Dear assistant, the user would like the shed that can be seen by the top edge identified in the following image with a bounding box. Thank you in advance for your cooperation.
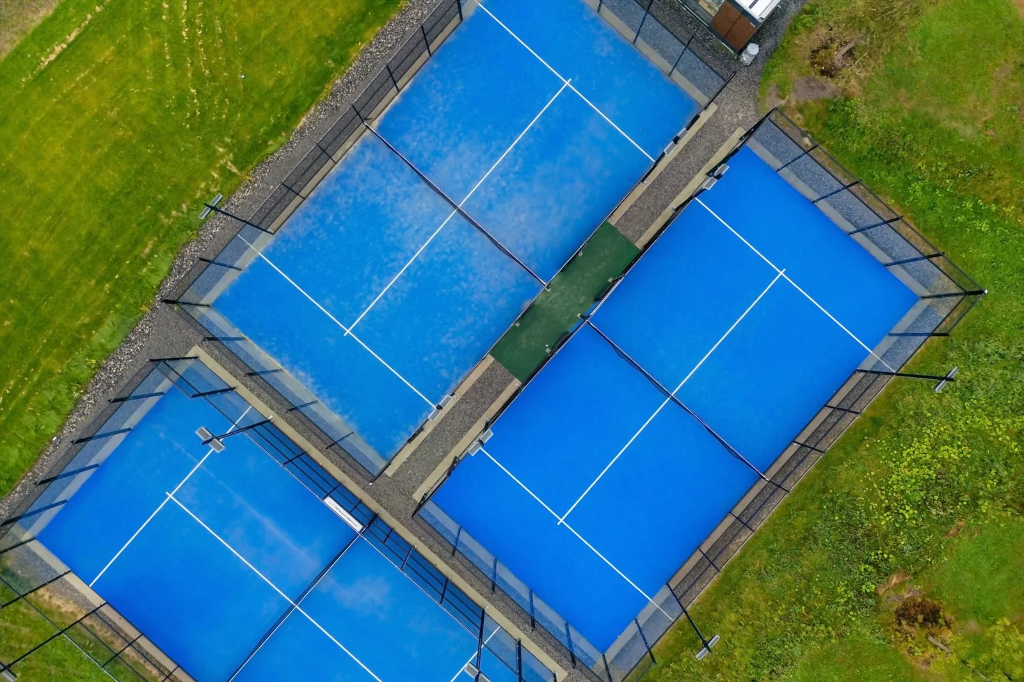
[676,0,785,53]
